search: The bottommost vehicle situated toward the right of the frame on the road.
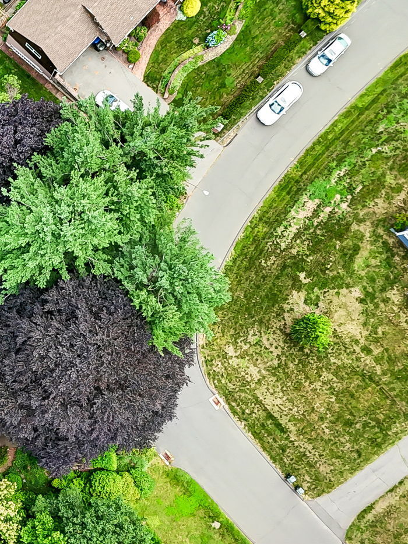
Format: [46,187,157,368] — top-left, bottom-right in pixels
[254,77,307,129]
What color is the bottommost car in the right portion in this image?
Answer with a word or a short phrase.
white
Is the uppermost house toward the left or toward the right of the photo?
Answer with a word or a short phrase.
left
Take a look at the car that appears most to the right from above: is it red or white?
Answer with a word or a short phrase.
white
